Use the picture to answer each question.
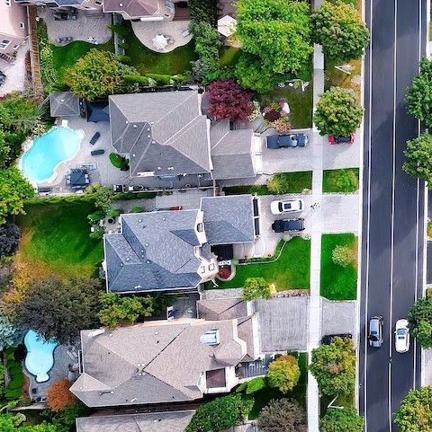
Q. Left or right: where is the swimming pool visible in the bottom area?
left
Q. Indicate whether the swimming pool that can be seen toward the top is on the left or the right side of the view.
left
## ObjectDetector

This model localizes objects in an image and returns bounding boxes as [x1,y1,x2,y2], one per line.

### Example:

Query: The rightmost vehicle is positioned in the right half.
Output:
[395,319,409,352]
